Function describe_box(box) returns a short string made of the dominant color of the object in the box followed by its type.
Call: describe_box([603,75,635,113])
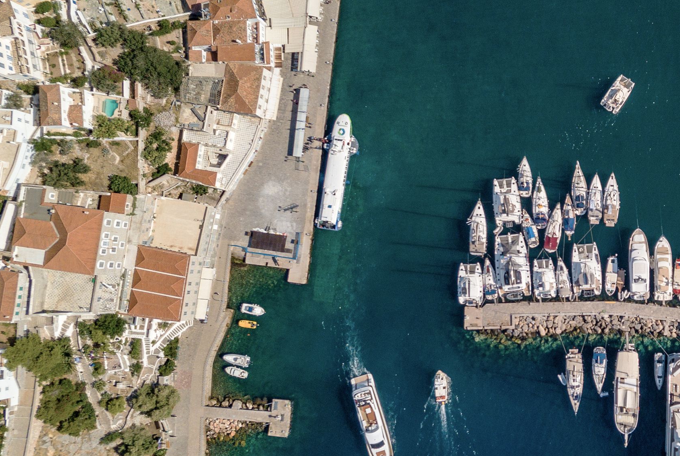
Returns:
white boat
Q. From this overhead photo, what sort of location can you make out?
residential area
